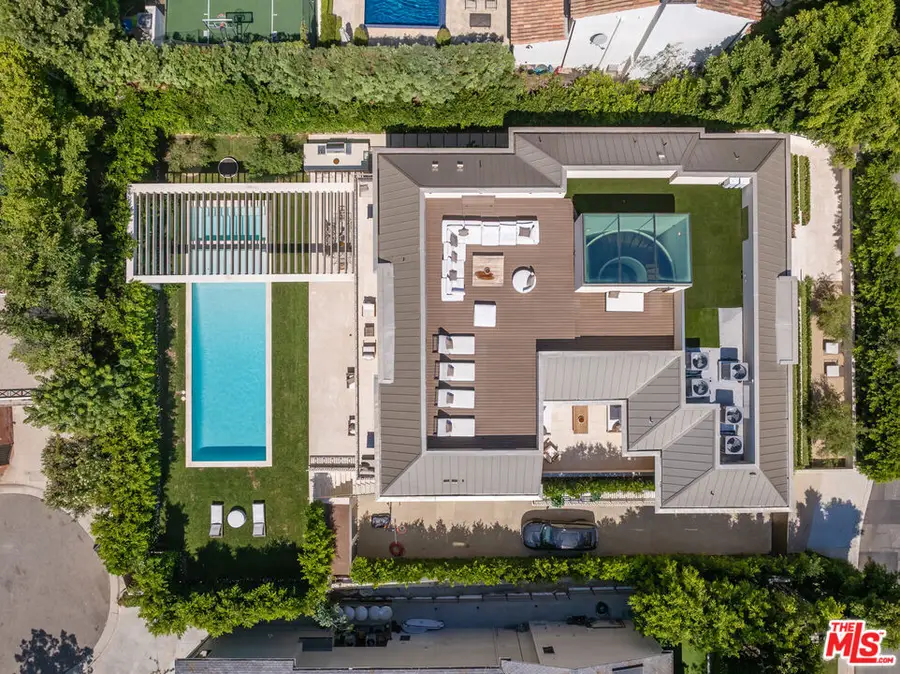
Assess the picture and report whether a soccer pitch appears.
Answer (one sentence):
No, no soccer pitch is visible in the scene.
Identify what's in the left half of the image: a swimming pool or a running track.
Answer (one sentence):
The feature located in the left half of the image is a swimming pool.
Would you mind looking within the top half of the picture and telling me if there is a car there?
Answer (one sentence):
No, there is no car within the top half of the picture.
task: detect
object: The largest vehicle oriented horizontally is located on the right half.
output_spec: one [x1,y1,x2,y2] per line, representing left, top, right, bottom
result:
[521,519,597,555]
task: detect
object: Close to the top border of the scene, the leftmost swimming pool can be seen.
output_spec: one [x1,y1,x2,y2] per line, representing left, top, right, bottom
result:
[364,0,446,28]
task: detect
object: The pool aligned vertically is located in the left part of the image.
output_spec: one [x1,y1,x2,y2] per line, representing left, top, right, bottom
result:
[181,202,272,467]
